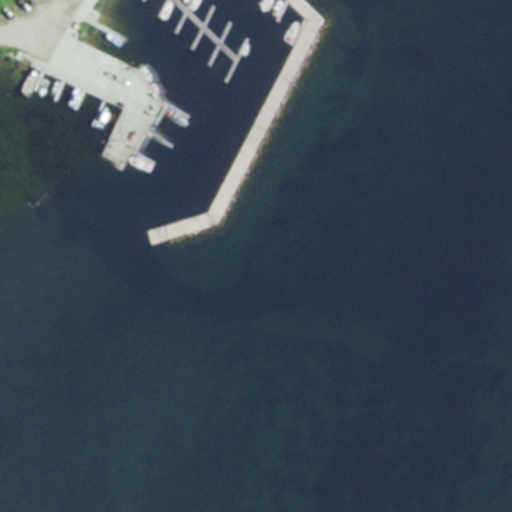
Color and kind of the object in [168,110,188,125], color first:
white boat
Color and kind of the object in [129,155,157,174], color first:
white boat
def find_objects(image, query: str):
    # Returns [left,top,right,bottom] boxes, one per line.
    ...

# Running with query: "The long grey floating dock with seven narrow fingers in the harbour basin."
[158,0,250,83]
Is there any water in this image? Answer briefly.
Yes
